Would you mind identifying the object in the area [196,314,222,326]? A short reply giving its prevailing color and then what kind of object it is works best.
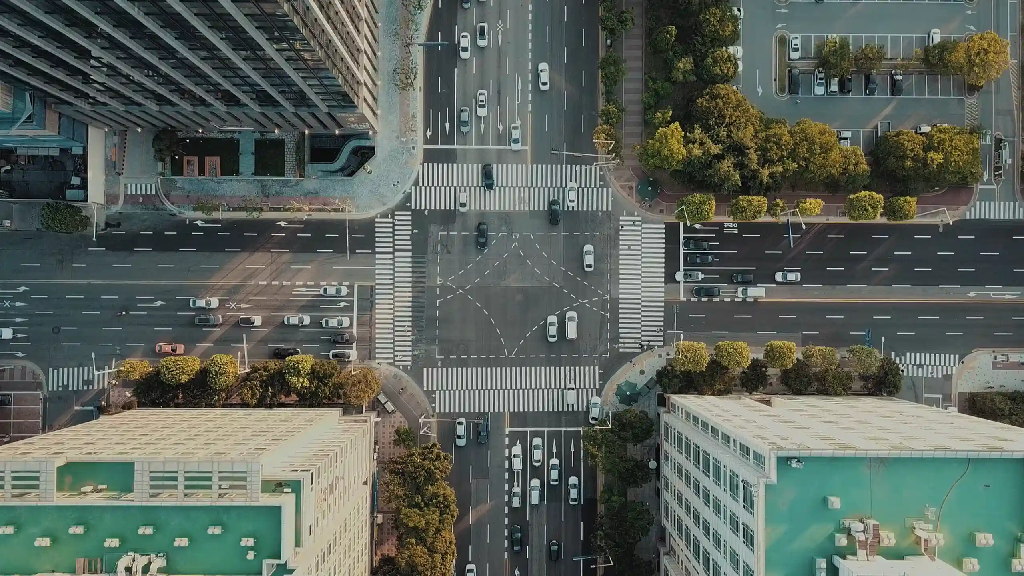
gray vehicle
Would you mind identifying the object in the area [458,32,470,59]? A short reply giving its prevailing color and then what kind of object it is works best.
white vehicle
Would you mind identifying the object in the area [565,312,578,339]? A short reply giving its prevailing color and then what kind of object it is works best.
white vehicle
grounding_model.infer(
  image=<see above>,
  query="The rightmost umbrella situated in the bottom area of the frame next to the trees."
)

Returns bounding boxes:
[615,380,639,405]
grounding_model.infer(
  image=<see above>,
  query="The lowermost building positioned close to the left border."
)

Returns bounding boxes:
[0,408,375,576]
